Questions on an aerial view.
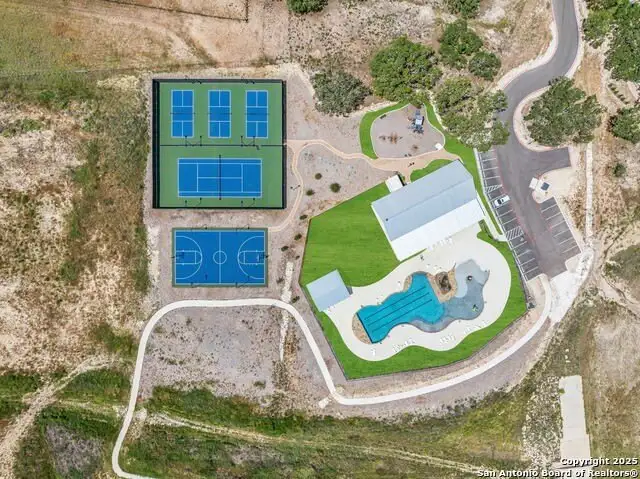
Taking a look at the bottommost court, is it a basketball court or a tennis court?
basketball court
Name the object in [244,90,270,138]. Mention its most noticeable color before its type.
blue sports court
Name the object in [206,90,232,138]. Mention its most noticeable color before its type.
blue sports court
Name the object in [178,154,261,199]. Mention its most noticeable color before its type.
blue tennis court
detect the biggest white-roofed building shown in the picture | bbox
[371,159,488,261]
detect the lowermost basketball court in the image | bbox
[172,228,268,286]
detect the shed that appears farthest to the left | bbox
[306,270,351,312]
